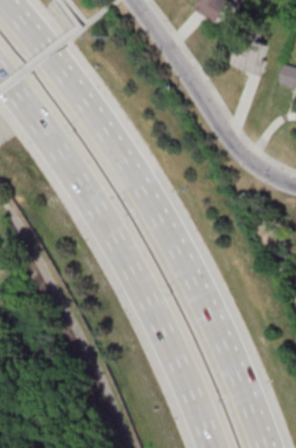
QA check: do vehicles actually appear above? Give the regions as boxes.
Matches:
[156,331,164,340]
[72,184,81,194]
[248,368,256,381]
[204,309,212,321]
[40,119,48,128]
[204,430,212,442]
[0,69,8,78]
[41,108,49,118]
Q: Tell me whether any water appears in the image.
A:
No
